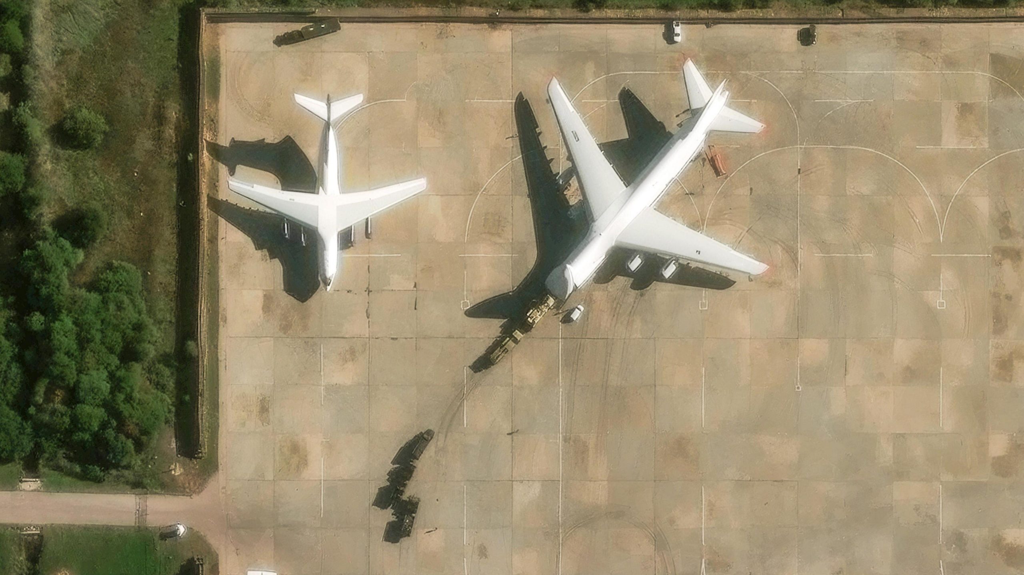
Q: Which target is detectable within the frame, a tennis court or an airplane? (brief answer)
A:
airplane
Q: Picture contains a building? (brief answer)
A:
No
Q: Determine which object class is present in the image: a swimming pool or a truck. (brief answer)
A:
truck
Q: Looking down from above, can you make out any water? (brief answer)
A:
No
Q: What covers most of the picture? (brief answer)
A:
paved ground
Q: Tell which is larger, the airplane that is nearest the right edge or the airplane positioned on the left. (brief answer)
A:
the airplane that is nearest the right edge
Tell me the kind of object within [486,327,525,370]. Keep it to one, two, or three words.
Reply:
truck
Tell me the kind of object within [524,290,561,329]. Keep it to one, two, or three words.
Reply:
truck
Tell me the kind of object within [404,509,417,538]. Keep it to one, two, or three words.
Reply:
vehicle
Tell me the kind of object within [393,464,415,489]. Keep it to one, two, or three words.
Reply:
vehicle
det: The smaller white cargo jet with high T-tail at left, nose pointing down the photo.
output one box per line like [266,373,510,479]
[230,92,427,290]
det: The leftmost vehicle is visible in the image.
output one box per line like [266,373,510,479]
[157,526,186,542]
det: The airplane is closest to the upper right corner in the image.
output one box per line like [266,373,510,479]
[544,59,768,307]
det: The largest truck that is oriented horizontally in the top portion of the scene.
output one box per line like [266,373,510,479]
[276,19,340,46]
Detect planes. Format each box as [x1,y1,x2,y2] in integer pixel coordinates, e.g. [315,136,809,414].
[230,92,427,290]
[544,59,768,307]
